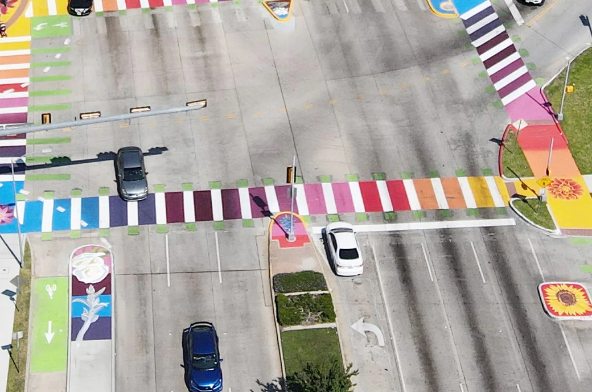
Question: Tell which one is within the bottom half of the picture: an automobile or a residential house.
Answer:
automobile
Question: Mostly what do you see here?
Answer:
paved ground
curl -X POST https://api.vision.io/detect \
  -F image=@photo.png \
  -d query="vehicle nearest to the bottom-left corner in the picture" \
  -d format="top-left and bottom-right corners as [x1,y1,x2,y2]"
[183,318,225,390]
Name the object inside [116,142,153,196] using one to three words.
car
